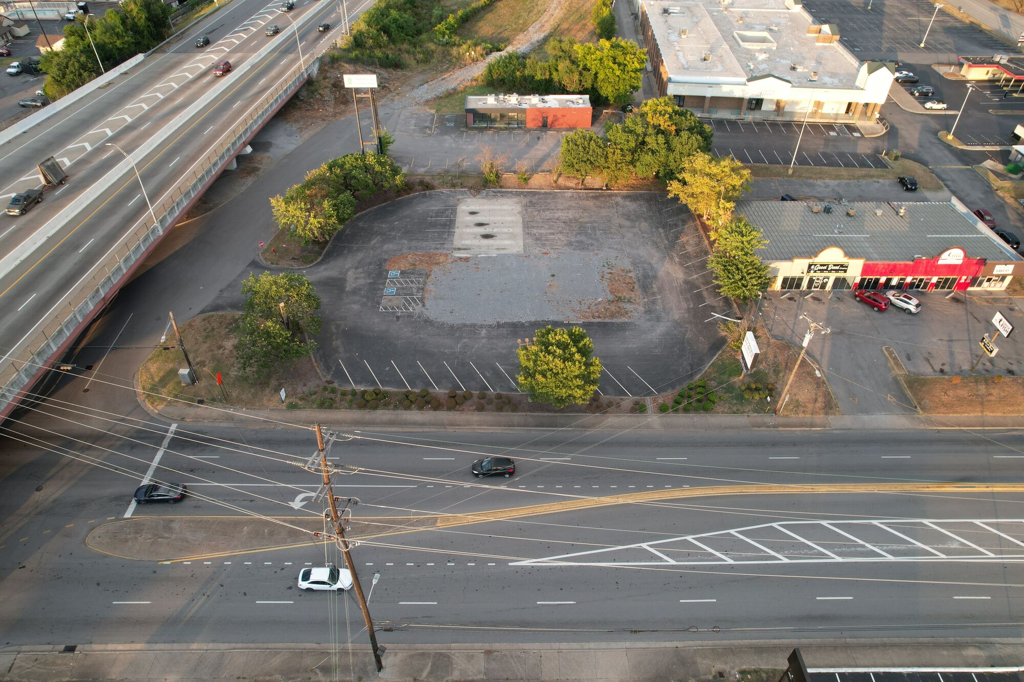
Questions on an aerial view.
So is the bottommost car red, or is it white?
white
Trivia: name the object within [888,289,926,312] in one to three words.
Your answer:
car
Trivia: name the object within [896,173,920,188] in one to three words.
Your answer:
car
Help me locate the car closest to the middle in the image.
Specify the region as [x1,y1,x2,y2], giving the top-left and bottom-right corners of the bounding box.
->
[473,456,514,478]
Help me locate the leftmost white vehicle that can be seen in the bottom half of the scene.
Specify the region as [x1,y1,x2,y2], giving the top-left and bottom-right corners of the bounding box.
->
[295,568,353,595]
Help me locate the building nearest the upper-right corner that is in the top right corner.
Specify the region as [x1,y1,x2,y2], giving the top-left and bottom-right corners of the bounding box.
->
[949,51,1024,94]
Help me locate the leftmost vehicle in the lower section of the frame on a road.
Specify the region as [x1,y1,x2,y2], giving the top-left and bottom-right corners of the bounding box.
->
[131,481,186,504]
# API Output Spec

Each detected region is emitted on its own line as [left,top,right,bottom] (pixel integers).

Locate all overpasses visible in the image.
[0,0,378,440]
